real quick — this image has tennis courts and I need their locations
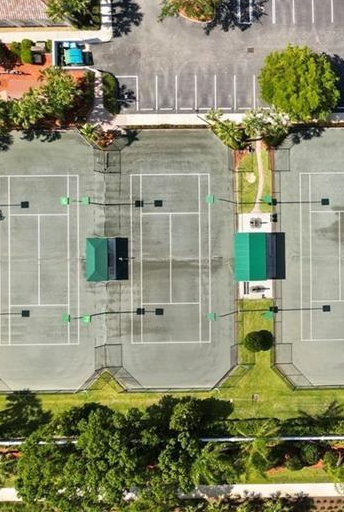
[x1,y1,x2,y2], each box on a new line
[275,125,344,386]
[103,127,237,390]
[0,131,103,391]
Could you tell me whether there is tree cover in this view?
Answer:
Yes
